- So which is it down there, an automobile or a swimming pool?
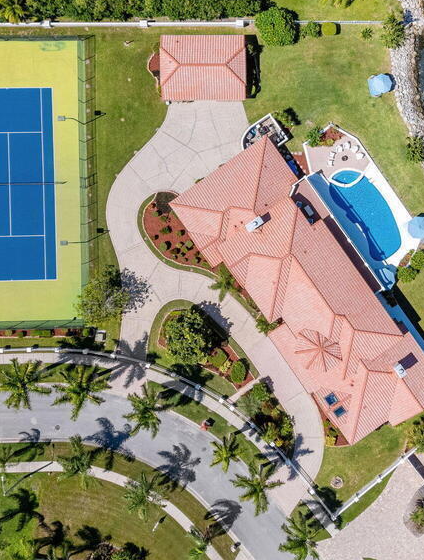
swimming pool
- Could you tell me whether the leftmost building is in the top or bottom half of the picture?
top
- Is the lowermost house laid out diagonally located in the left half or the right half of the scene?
right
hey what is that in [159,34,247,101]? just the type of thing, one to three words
building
